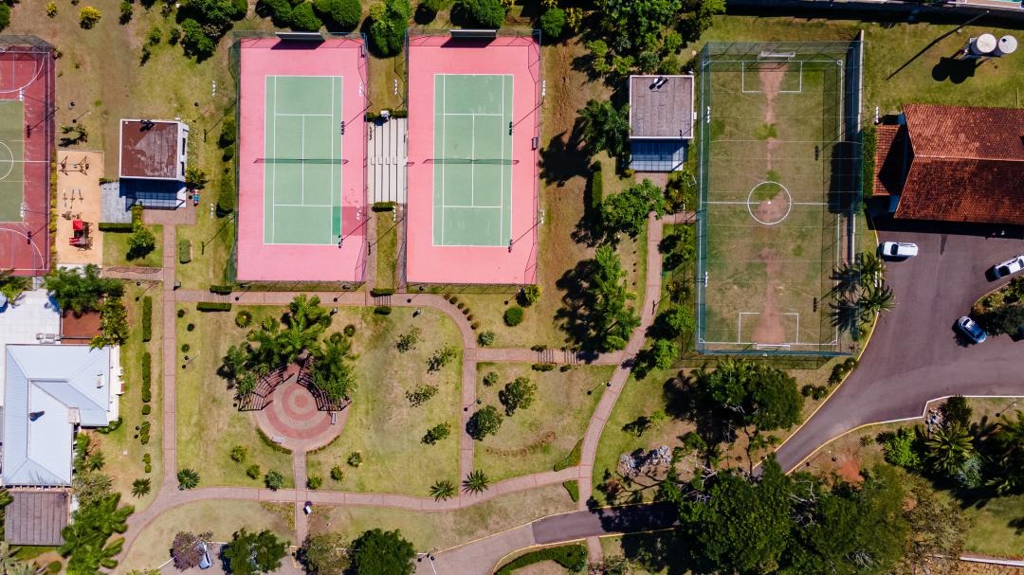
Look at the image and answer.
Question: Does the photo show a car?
Yes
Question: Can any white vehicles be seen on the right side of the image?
Yes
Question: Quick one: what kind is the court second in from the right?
tennis court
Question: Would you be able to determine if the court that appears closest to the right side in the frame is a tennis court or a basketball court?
tennis court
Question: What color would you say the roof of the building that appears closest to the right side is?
red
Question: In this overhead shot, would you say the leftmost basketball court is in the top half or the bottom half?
top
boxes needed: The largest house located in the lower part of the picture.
[3,344,118,487]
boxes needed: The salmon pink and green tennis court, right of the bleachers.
[406,36,539,284]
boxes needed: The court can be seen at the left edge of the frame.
[0,46,55,276]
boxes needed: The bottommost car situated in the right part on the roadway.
[955,315,985,344]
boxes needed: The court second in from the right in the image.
[237,38,366,282]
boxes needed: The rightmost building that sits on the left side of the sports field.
[625,75,694,171]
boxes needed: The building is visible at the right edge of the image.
[869,104,1024,226]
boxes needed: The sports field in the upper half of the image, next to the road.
[695,54,845,352]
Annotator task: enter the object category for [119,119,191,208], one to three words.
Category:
building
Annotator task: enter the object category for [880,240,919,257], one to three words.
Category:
car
